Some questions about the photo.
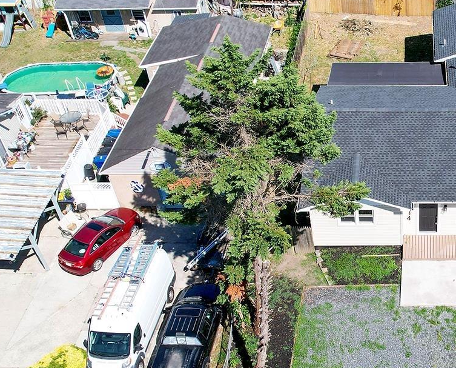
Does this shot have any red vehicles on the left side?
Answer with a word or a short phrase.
Yes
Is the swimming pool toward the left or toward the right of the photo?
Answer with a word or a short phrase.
left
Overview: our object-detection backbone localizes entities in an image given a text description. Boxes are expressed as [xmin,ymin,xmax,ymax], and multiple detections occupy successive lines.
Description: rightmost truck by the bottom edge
[150,284,225,368]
